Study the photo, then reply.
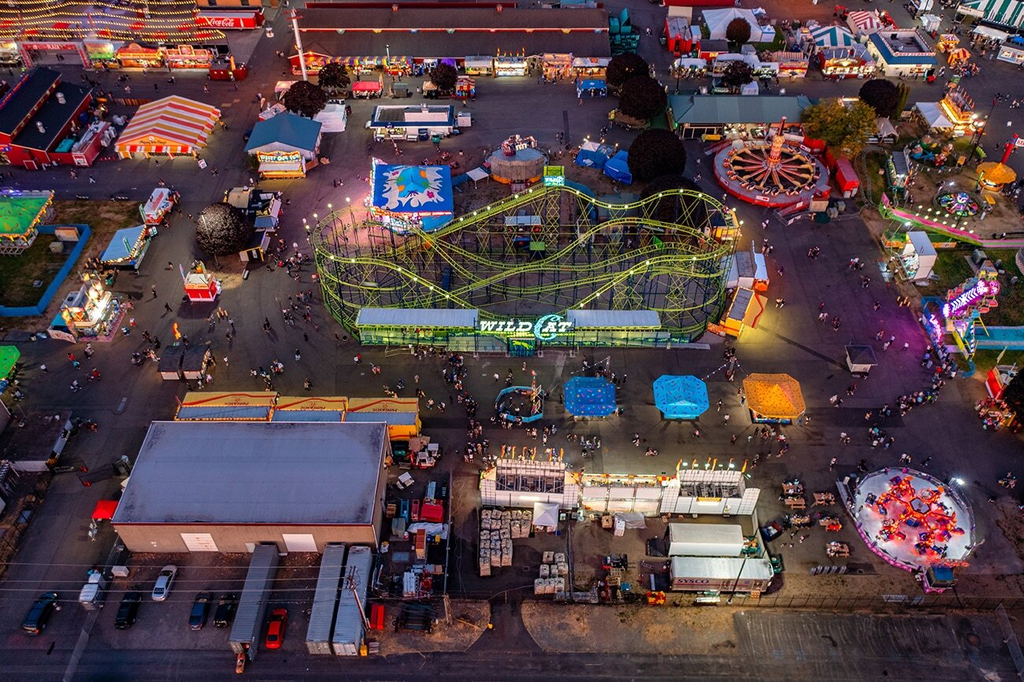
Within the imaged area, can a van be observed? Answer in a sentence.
Yes, I can see a van in this picture.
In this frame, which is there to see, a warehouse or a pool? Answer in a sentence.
This aerial view contains a warehouse.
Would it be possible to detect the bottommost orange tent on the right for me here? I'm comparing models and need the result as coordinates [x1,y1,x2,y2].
[738,378,813,424]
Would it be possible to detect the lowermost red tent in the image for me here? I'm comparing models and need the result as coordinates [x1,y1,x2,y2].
[89,497,121,536]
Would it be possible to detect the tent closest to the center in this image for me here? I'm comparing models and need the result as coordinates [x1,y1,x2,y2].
[561,376,620,423]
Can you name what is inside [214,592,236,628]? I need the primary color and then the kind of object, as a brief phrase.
black car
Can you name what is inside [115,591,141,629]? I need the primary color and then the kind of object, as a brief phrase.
black car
